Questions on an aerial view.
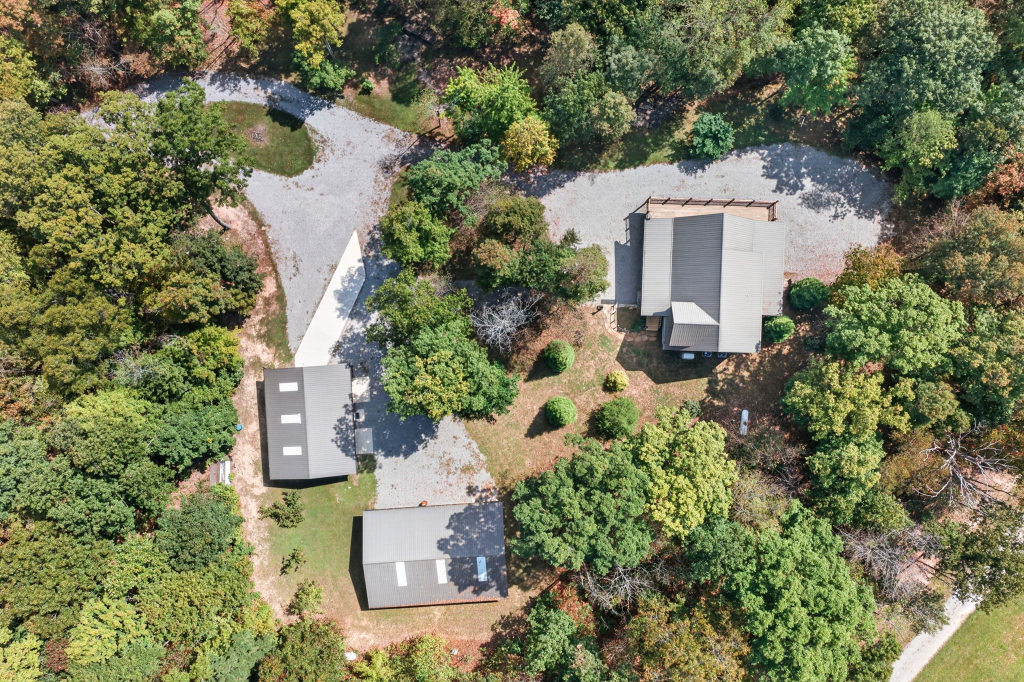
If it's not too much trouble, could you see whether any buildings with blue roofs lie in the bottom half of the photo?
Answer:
No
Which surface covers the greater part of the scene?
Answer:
trees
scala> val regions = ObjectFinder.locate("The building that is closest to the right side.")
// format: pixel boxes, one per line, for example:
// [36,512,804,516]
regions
[637,196,785,353]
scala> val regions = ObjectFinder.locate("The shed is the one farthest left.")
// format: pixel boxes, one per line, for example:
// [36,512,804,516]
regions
[262,364,361,480]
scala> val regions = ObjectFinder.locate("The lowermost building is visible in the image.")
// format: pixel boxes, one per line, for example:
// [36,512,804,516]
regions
[362,498,508,610]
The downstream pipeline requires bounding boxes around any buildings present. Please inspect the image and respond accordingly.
[262,364,361,480]
[362,498,508,610]
[637,196,785,353]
